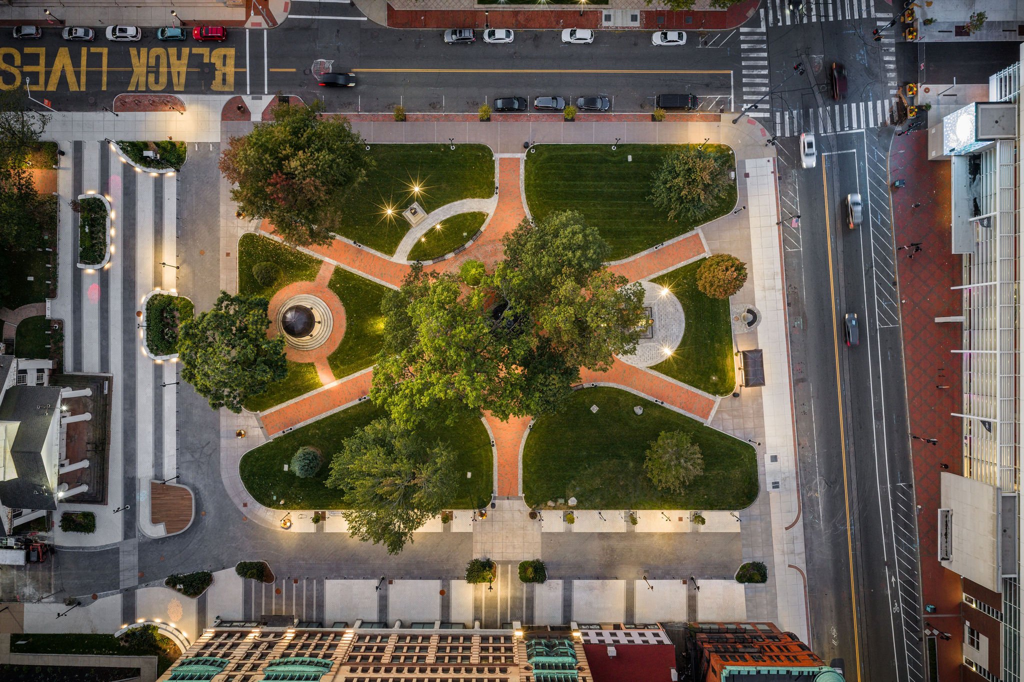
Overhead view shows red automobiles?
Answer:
Yes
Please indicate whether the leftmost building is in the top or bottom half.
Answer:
bottom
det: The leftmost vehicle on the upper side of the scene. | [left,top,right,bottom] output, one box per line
[9,22,40,39]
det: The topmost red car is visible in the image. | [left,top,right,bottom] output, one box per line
[190,22,226,41]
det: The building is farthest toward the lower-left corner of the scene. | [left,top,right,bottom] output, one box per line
[0,355,111,545]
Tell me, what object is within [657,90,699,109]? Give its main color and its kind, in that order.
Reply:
black vehicle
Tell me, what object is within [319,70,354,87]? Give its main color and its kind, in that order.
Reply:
black car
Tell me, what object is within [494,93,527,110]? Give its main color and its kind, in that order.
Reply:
black car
